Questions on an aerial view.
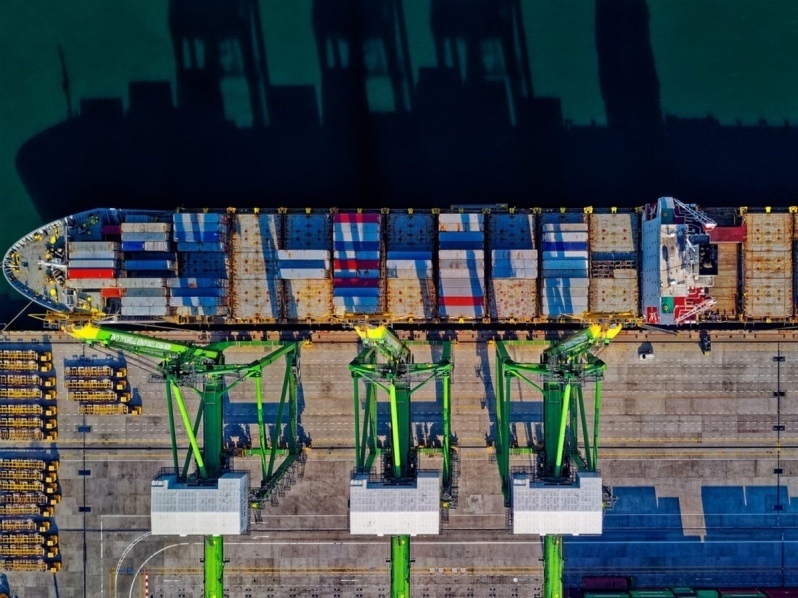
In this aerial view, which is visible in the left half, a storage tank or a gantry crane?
gantry crane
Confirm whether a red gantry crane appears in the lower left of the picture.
No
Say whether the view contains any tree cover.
No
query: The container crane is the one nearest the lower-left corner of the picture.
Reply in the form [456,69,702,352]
[30,311,318,598]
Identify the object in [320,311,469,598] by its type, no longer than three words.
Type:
container crane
